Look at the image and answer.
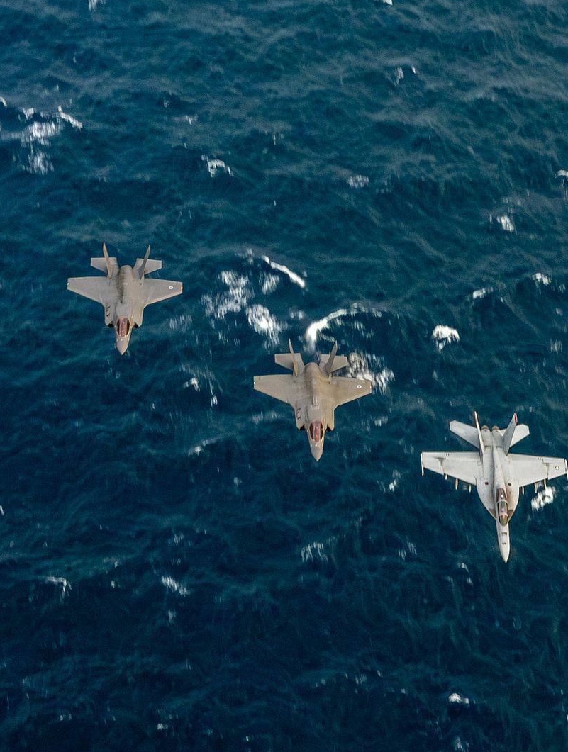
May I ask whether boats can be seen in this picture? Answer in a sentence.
No, the scene contains no boat.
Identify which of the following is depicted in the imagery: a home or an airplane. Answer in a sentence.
I can see an airplane in this picture.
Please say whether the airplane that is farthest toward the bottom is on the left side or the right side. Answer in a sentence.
It is on the right.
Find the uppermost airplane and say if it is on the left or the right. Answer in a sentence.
The uppermost airplane is on the left side of the image.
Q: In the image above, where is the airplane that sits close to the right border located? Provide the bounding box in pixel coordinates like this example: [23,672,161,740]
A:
[421,413,568,562]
